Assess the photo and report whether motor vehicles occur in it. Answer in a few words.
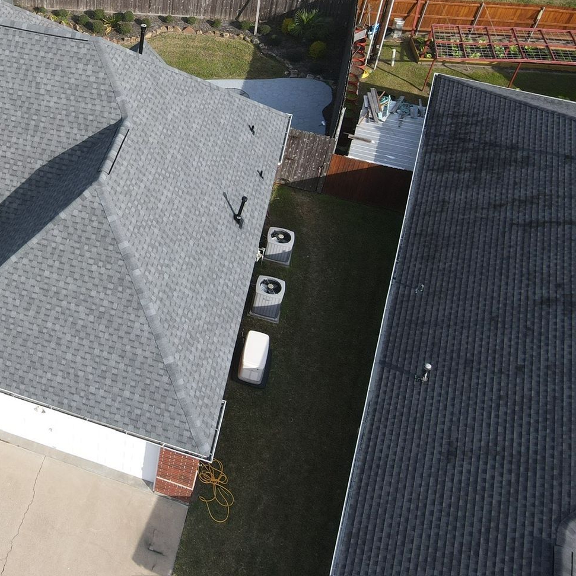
No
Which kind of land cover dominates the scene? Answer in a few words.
buildings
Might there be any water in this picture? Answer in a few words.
No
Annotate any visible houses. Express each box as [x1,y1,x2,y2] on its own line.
[325,76,576,576]
[0,0,294,506]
